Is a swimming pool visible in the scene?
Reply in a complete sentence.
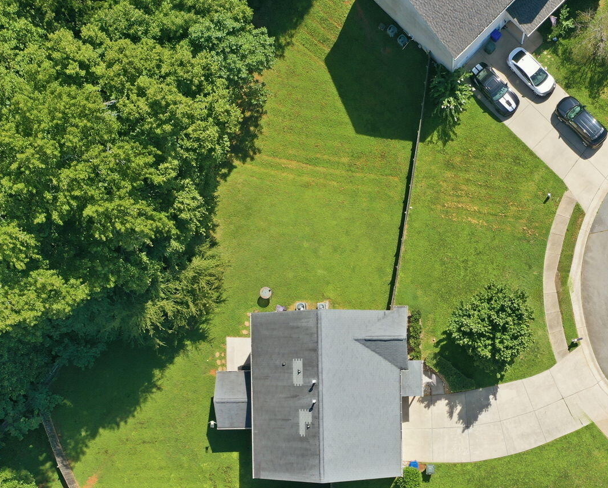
No, there appears to be no swimming pool in this shot.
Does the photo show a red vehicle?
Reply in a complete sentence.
No, no red vehicle can be seen from above.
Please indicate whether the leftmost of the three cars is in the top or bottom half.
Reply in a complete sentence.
The top half of the photo is where the leftmost of the three cars is.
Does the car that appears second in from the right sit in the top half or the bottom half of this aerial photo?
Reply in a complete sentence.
You can find the car that appears second in from the right in the top half.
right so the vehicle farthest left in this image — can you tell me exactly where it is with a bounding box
[468,59,520,120]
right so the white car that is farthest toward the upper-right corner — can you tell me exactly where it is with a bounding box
[508,42,558,100]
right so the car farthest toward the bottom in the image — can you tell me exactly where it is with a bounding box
[556,92,608,153]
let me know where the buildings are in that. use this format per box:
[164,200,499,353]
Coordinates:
[375,0,562,72]
[213,304,425,482]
